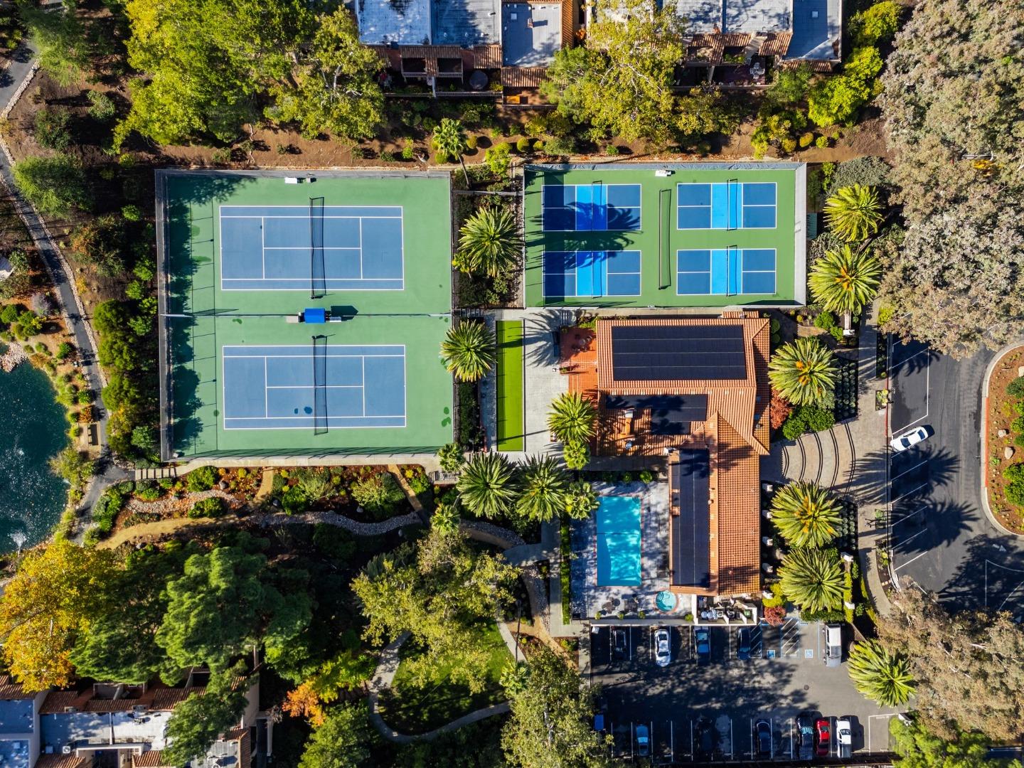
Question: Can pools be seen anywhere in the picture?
Yes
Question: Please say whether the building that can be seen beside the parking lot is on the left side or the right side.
right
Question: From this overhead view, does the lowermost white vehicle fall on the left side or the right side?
right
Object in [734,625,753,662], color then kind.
black car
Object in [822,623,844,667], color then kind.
white vehicle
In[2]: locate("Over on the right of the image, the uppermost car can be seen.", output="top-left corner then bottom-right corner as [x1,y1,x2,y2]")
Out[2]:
[887,425,930,450]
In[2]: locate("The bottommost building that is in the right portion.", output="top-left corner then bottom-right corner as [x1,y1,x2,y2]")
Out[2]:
[596,311,771,601]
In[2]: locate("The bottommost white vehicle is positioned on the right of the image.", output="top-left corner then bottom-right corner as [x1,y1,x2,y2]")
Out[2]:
[833,714,854,754]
